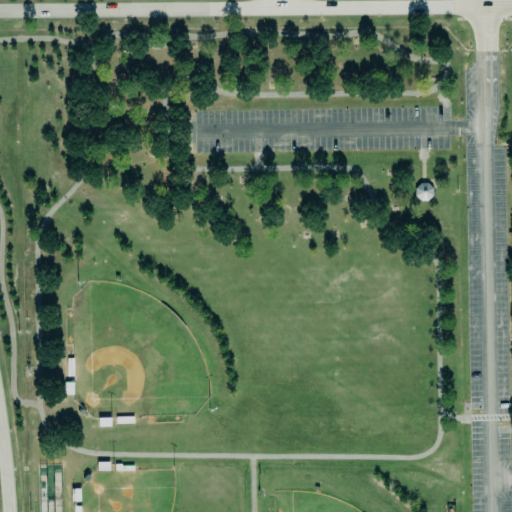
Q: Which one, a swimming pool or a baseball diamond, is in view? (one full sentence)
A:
It is a baseball diamond that can be seen here.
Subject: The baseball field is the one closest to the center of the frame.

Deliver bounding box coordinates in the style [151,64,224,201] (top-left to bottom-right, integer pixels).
[66,280,210,423]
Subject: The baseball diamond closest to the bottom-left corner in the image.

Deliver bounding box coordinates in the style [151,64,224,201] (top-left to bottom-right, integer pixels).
[84,468,176,512]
